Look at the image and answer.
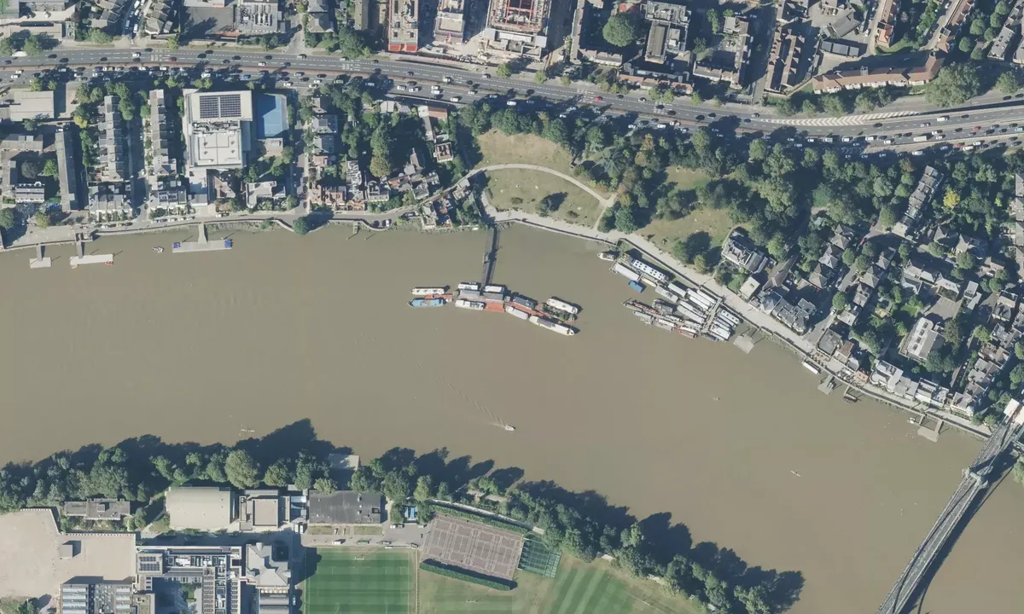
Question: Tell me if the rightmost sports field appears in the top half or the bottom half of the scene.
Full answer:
The rightmost sports field is in the bottom half of the image.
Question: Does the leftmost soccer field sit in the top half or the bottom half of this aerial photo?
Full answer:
It is in the bottom half that the leftmost soccer field appears.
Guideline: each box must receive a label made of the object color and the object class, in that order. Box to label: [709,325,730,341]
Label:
white boat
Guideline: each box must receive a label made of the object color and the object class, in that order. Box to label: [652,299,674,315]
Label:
gray boat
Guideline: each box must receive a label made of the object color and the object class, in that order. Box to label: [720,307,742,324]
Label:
white boat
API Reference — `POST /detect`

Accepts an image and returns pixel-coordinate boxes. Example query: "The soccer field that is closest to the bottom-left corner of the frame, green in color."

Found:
[305,550,410,614]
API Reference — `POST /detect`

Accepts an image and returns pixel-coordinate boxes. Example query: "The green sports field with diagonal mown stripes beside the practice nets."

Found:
[528,560,675,614]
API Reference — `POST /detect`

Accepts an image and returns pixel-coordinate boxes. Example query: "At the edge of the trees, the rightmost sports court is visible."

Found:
[422,514,523,580]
